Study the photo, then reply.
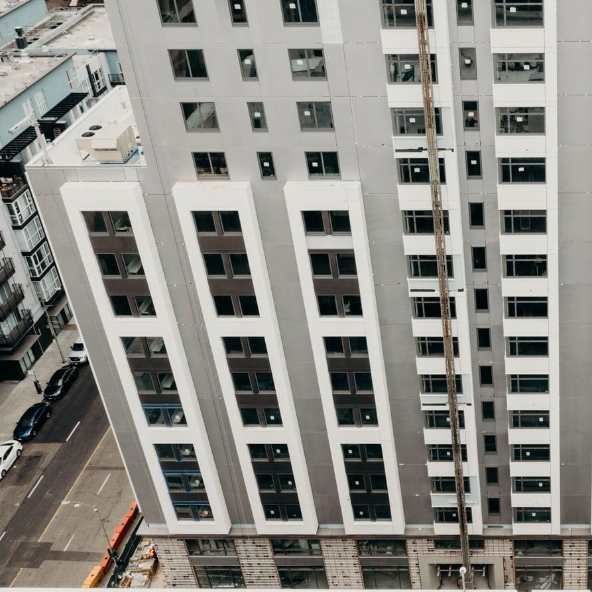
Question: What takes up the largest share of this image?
buildings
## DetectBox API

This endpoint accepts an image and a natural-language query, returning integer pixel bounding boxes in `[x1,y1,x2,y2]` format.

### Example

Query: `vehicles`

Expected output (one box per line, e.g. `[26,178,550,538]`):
[64,334,86,362]
[44,366,79,397]
[0,439,26,477]
[16,402,54,435]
